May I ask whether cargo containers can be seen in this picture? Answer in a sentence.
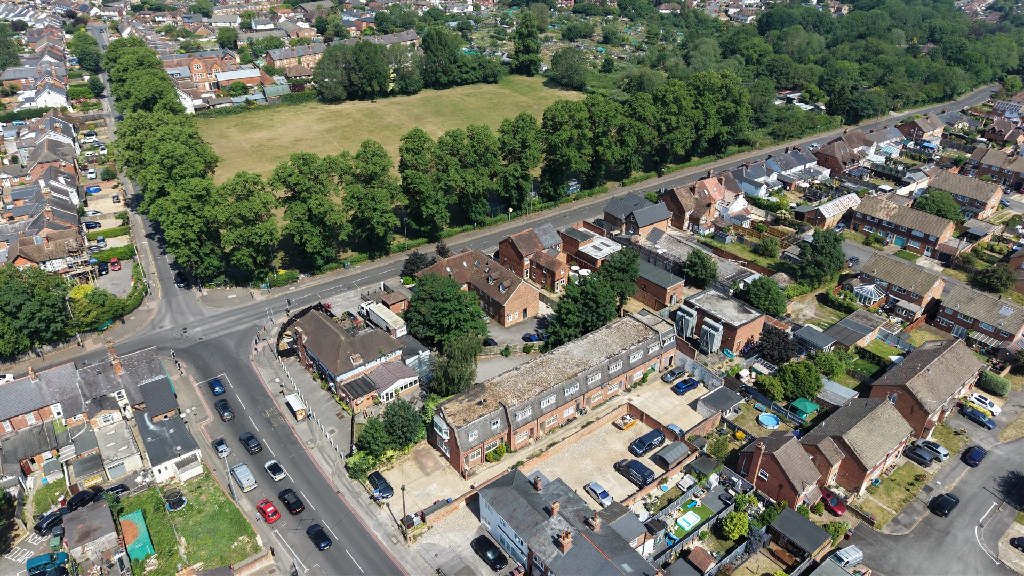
Yes, there's a cargo container here.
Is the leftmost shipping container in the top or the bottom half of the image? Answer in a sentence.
You can find the leftmost shipping container in the bottom half.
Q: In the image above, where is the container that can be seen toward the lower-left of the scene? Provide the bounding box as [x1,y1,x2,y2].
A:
[130,506,159,575]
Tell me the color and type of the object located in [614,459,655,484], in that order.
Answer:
black vehicle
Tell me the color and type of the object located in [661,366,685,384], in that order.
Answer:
gray car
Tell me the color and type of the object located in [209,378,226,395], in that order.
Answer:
blue car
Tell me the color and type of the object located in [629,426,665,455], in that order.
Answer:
black van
